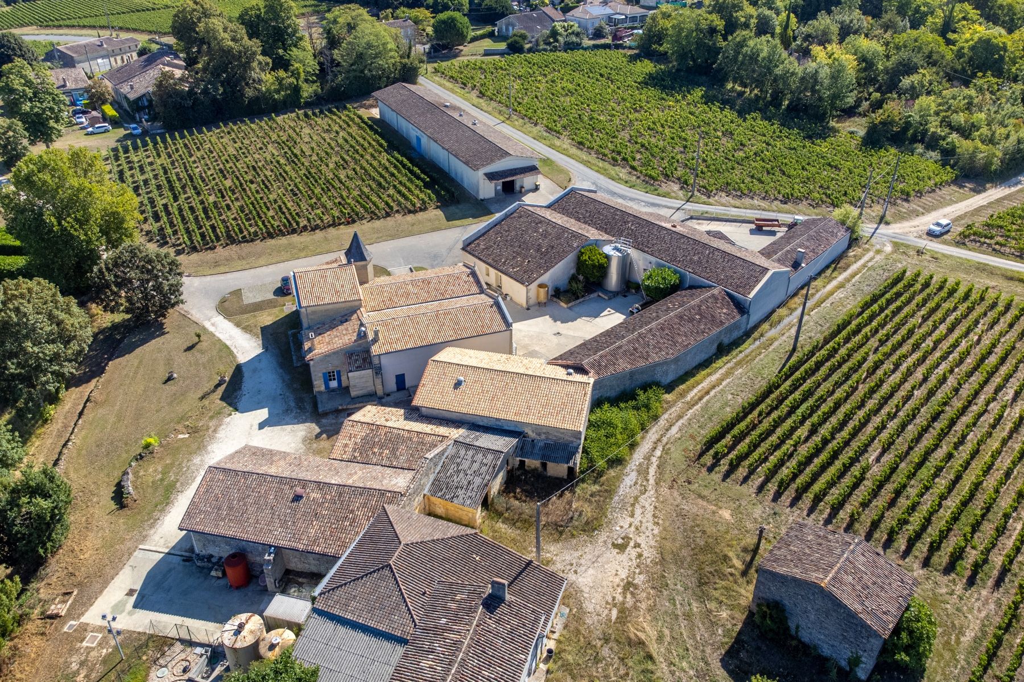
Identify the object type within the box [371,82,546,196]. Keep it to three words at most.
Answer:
building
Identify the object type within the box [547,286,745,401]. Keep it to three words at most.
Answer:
shed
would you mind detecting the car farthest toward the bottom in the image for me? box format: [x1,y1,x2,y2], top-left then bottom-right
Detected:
[278,273,293,292]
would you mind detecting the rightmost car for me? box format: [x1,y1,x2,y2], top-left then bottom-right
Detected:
[927,218,954,235]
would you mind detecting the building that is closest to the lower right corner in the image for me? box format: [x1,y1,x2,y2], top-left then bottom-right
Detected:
[751,521,918,679]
